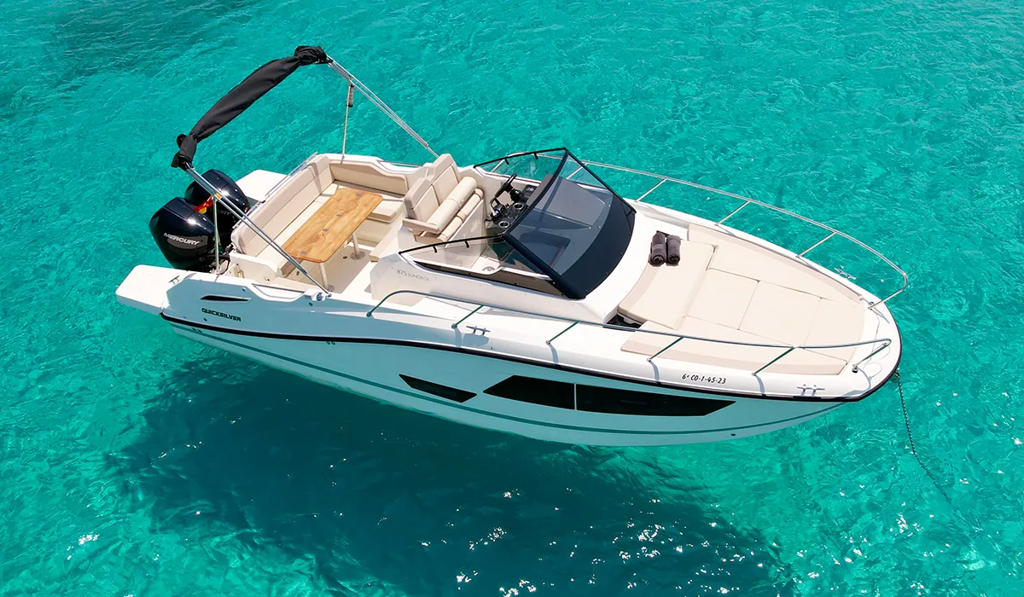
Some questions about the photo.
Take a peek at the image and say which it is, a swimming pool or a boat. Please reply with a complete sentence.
Looking from above, you can make out a boat.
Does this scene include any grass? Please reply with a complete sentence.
No, the picture contains no grass.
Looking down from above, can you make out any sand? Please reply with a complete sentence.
No, there is no sand in the image.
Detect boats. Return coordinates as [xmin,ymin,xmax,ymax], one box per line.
[119,39,909,445]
